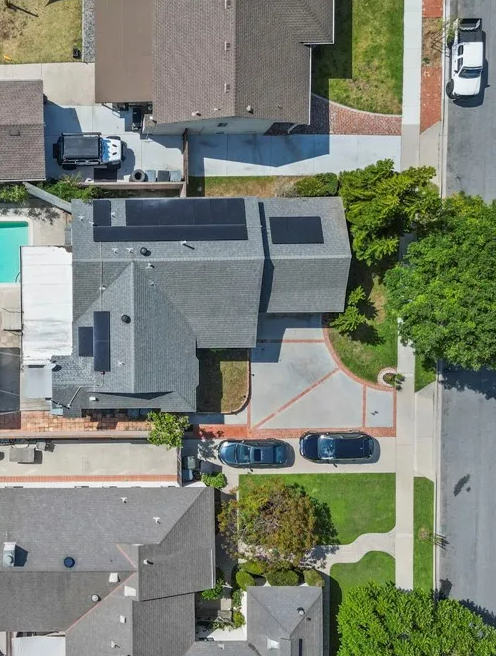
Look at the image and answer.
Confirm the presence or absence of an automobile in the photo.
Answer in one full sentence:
Yes, there is an automobile in the image.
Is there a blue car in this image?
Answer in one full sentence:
Yes, a blue car is visible in the scene.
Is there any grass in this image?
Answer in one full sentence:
Yes, grass shows up in the scene.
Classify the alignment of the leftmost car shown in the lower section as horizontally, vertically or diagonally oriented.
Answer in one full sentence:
The leftmost car shown in the lower section is oriented horizontally.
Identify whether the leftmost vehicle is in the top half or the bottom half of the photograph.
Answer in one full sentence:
The leftmost vehicle is in the top half of the image.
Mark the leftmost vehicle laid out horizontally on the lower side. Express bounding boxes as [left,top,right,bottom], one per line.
[217,439,290,471]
